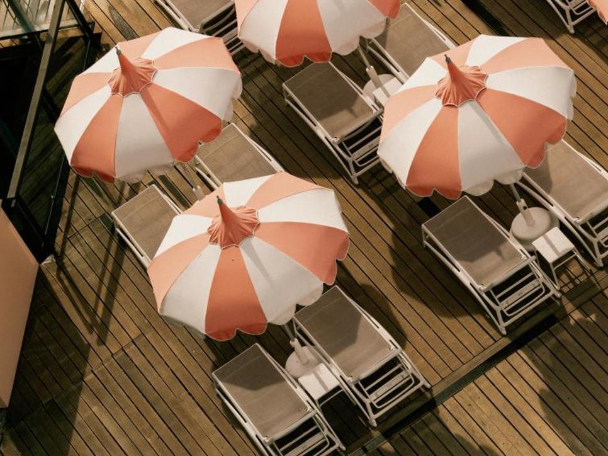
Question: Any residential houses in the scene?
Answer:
No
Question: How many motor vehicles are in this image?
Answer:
none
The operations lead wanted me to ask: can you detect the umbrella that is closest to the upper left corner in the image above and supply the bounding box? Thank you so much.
[52,22,242,201]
